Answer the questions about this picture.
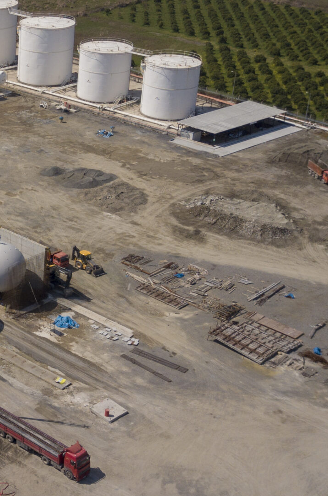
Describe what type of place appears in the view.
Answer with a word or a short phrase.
industrial area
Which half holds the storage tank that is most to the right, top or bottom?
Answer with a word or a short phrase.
top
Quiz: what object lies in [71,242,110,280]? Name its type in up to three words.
work vehicle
